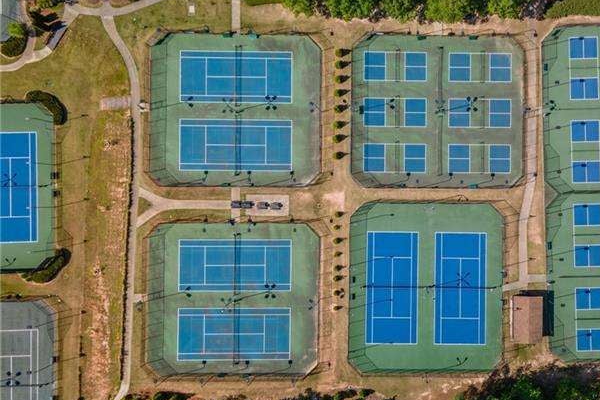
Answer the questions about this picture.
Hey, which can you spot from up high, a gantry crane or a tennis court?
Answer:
tennis court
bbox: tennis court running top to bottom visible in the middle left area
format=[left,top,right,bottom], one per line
[0,130,41,243]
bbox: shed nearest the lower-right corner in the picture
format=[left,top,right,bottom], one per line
[511,295,544,343]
